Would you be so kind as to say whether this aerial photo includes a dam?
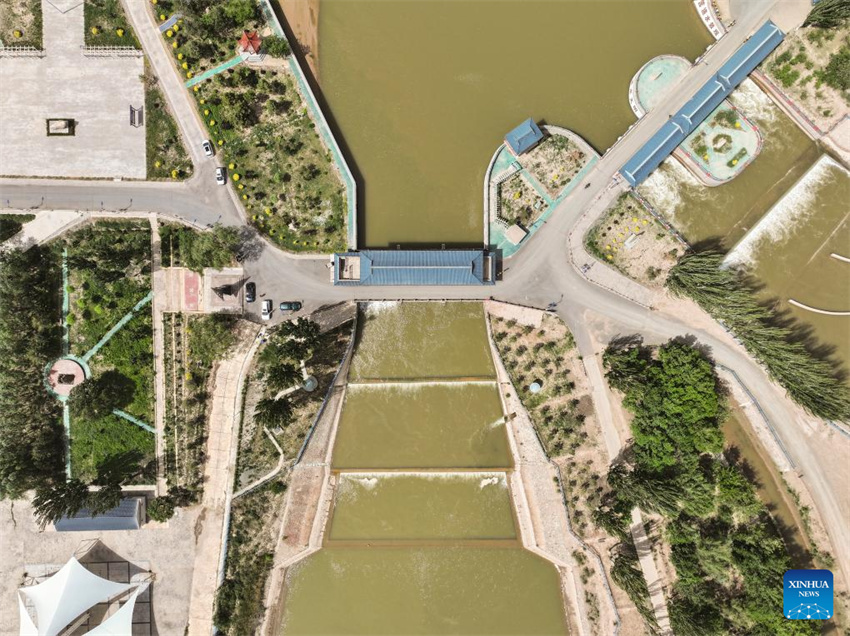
Yes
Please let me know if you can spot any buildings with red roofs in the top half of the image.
Yes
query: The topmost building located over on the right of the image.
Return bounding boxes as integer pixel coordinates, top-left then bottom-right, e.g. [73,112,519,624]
[502,117,544,161]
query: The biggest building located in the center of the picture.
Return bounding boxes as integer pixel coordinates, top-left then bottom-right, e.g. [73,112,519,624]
[330,250,496,286]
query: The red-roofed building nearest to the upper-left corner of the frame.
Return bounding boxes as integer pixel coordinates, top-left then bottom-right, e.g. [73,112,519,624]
[237,30,264,61]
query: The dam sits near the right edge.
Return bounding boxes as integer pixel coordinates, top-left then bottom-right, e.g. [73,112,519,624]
[732,154,830,260]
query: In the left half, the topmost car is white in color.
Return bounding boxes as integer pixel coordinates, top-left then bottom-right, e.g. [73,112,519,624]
[202,138,215,158]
